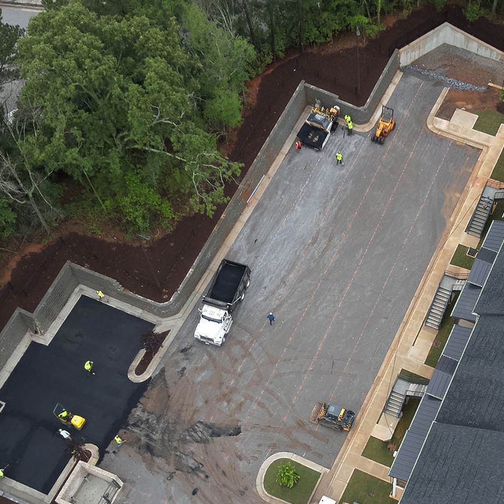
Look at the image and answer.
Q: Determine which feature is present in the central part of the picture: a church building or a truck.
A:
truck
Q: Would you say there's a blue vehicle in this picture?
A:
No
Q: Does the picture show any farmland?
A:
No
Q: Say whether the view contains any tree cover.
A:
Yes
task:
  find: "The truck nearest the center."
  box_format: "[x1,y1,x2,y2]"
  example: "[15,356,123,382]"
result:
[197,252,250,352]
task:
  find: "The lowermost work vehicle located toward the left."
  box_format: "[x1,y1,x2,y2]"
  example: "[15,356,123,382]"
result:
[46,394,89,431]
